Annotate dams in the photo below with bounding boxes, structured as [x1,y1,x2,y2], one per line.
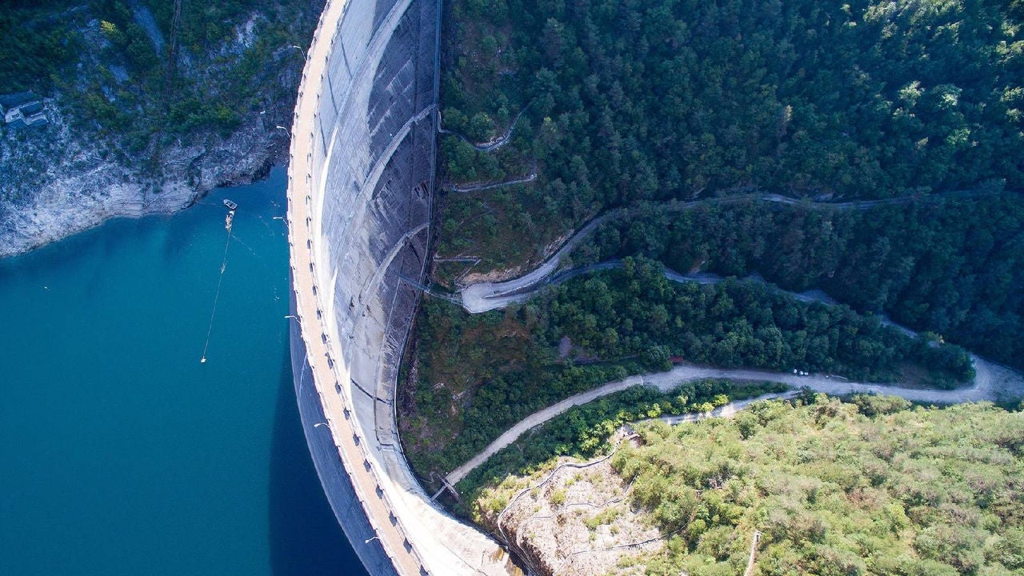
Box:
[286,0,529,576]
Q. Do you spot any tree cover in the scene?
Yes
